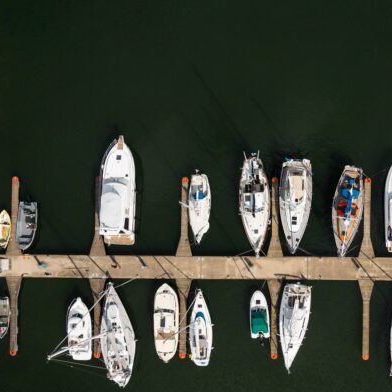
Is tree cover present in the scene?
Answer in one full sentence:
No, there is no tree cover in the image.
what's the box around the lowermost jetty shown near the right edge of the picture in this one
[357,281,375,360]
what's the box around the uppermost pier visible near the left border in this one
[5,176,23,255]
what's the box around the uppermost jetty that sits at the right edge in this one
[359,176,377,257]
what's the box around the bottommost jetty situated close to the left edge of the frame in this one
[5,279,23,356]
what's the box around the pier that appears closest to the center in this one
[175,175,194,257]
